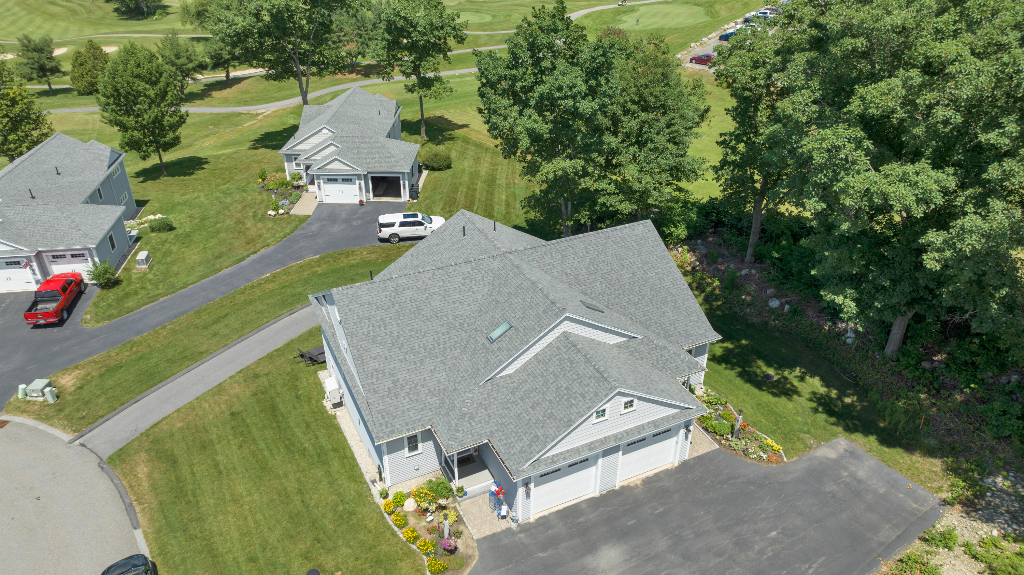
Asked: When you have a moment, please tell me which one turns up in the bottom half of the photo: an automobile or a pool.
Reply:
automobile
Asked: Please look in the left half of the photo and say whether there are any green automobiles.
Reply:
No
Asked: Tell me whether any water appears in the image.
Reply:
No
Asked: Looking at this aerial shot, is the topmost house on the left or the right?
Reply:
left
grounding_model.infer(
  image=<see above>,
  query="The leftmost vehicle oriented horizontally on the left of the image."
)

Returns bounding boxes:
[100,547,163,575]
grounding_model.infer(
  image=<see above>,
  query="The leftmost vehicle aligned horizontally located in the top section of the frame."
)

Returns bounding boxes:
[375,208,451,244]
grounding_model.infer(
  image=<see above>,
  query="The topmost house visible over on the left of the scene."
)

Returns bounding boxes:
[280,86,422,205]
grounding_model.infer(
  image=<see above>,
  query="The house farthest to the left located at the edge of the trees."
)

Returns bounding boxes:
[0,132,130,294]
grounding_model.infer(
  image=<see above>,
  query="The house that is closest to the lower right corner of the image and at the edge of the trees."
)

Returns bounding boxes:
[308,209,723,522]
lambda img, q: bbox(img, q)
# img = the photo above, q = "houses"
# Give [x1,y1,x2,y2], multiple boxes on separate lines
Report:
[308,209,723,522]
[280,86,422,205]
[0,132,130,294]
